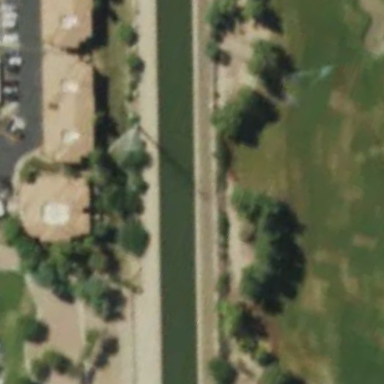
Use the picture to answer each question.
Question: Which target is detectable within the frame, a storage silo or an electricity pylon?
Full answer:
Of the two, only an electricity pylon appears.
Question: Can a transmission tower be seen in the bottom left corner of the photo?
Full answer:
No, no transmission tower can be made out in the bottom left corner of the photo.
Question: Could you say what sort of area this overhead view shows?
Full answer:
This image shows a golf course.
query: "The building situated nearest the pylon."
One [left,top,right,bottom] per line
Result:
[42,53,100,163]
